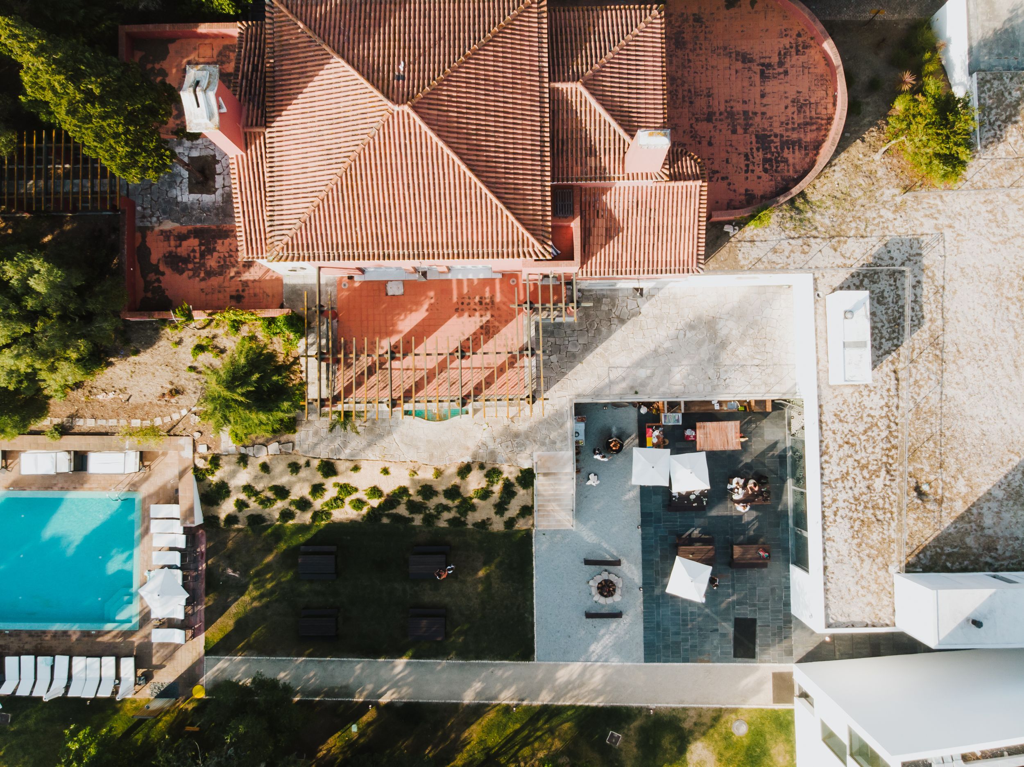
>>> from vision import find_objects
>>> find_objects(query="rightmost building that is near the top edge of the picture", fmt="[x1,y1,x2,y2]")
[182,0,716,290]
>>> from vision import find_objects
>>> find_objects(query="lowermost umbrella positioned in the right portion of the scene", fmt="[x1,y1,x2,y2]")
[665,555,712,603]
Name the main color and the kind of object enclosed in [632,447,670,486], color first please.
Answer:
white umbrella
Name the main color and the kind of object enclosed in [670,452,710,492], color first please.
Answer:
white umbrella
